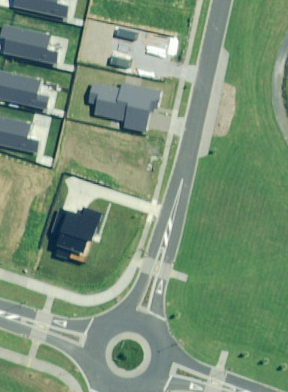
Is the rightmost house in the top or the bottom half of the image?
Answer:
top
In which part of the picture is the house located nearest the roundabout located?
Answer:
left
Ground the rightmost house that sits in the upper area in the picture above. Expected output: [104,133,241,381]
[87,82,162,132]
